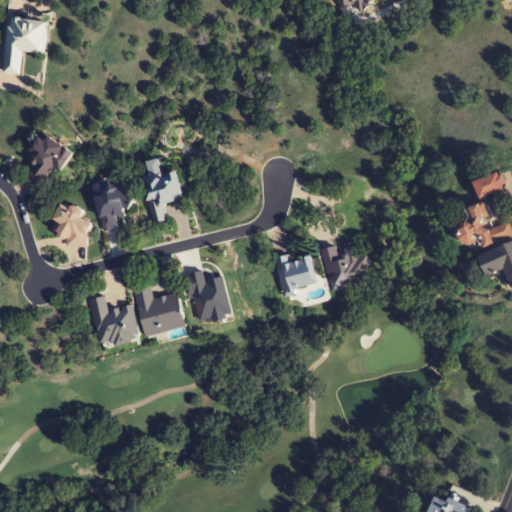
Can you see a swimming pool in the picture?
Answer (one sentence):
Yes, there is a swimming pool in the image.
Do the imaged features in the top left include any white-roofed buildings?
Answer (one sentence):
Yes, a white-roofed building is visible in the top left.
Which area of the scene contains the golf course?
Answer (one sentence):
The golf course is located in the bottom region of the scene.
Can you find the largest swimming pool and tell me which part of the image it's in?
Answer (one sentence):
The largest swimming pool appears toward the center of the photo.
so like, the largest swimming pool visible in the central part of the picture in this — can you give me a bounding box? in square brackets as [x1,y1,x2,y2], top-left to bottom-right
[288,270,332,307]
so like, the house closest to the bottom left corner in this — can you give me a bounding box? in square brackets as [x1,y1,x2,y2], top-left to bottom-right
[88,295,140,347]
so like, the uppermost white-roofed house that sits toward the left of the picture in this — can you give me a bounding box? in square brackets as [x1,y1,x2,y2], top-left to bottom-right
[5,18,50,77]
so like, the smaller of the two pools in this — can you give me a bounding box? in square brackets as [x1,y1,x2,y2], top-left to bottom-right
[167,326,188,342]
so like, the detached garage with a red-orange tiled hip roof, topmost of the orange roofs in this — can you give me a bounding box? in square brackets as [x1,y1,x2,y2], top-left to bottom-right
[472,170,508,197]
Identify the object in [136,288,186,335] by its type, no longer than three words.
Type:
house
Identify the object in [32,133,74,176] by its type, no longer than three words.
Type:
house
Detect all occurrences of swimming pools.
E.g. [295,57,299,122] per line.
[167,326,188,342]
[288,270,332,307]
